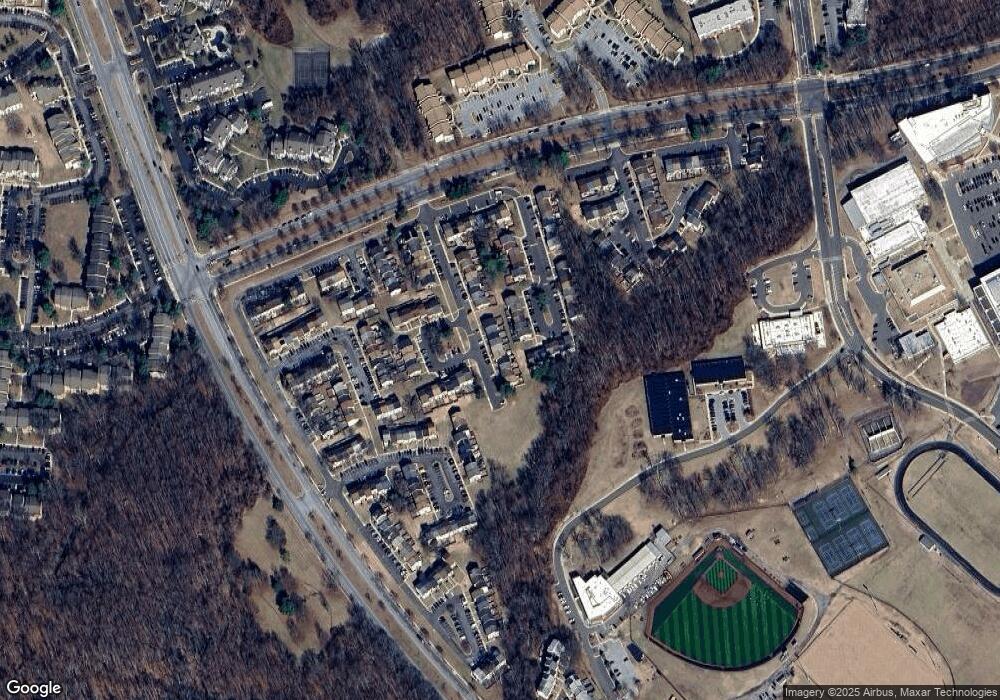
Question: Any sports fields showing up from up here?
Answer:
Yes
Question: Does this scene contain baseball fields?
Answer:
Yes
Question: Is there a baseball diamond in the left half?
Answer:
No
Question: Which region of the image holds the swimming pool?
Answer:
top left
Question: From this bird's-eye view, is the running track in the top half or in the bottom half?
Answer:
bottom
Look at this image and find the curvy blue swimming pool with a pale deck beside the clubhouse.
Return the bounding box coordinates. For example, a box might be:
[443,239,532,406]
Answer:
[202,23,233,60]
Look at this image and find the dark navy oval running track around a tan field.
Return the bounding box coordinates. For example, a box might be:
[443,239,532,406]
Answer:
[895,440,1000,594]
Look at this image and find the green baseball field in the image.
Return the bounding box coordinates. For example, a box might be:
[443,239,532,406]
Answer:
[645,535,802,671]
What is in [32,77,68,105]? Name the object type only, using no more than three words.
building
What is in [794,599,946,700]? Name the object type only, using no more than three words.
sports field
